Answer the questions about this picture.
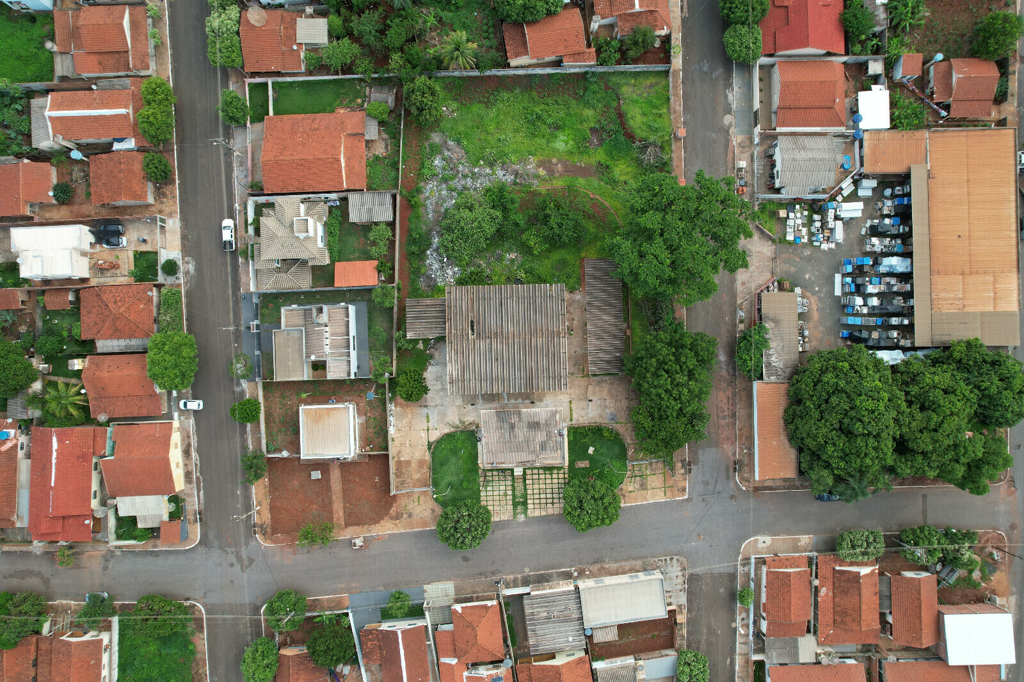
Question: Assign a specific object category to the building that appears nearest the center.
warehouse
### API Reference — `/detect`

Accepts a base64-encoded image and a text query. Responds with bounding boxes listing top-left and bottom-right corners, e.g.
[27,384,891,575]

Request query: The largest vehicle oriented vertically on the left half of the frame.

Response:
[222,219,236,250]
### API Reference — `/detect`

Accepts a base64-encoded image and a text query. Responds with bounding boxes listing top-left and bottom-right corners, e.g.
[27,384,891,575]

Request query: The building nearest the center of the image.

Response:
[445,283,569,394]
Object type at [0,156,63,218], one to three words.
house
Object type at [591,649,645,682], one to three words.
house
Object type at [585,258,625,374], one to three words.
shed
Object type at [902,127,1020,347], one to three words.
warehouse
